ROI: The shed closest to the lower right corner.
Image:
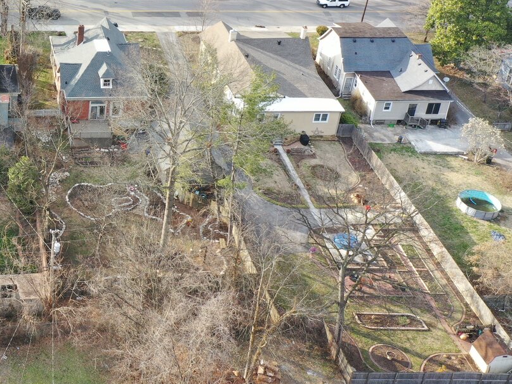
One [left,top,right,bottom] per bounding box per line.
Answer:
[465,321,512,374]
